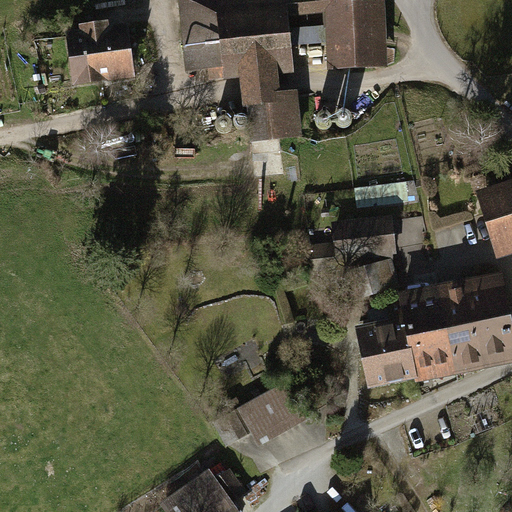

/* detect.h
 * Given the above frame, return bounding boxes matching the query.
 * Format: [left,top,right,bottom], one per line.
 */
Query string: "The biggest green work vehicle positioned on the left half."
[36,146,56,160]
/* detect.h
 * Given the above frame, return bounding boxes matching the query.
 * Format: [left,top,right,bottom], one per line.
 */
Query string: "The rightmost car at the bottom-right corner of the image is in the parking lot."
[437,416,451,440]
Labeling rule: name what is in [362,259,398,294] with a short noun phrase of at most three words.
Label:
building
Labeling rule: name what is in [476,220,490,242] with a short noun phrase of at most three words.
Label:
vehicle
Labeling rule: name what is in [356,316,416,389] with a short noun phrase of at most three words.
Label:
house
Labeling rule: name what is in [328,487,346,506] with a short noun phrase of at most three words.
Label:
vehicle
